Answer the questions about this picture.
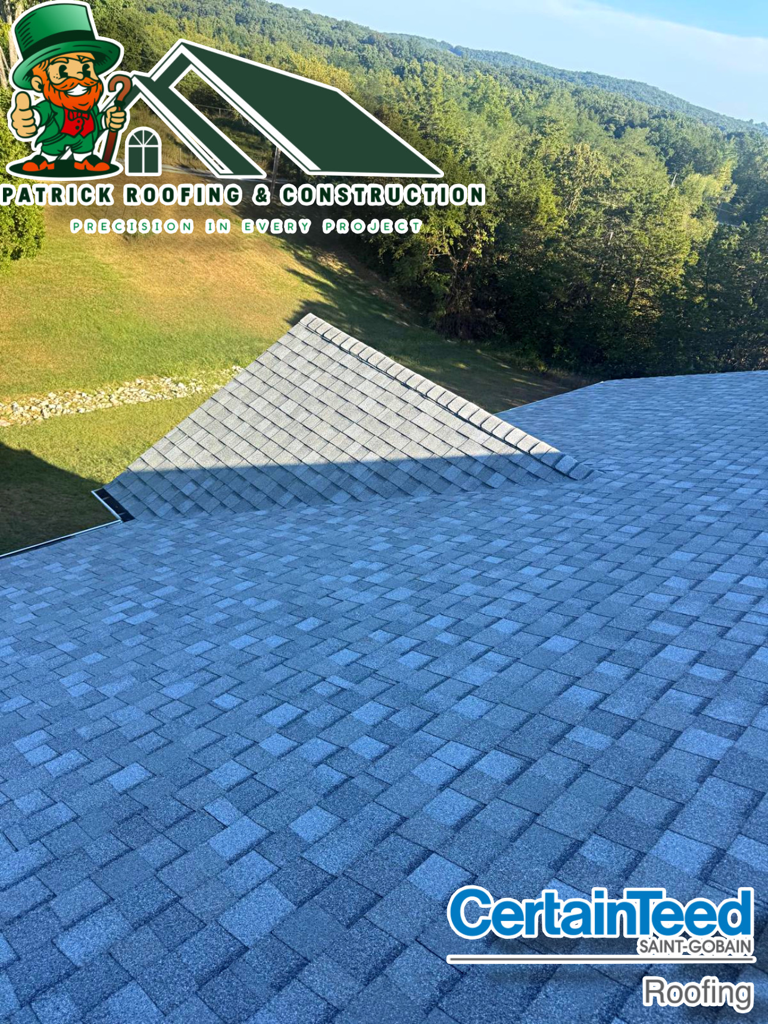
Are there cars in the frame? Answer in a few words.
No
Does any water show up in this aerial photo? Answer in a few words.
No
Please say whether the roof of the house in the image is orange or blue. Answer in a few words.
blue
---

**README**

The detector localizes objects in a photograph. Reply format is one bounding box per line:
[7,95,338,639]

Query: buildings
[0,315,768,1024]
